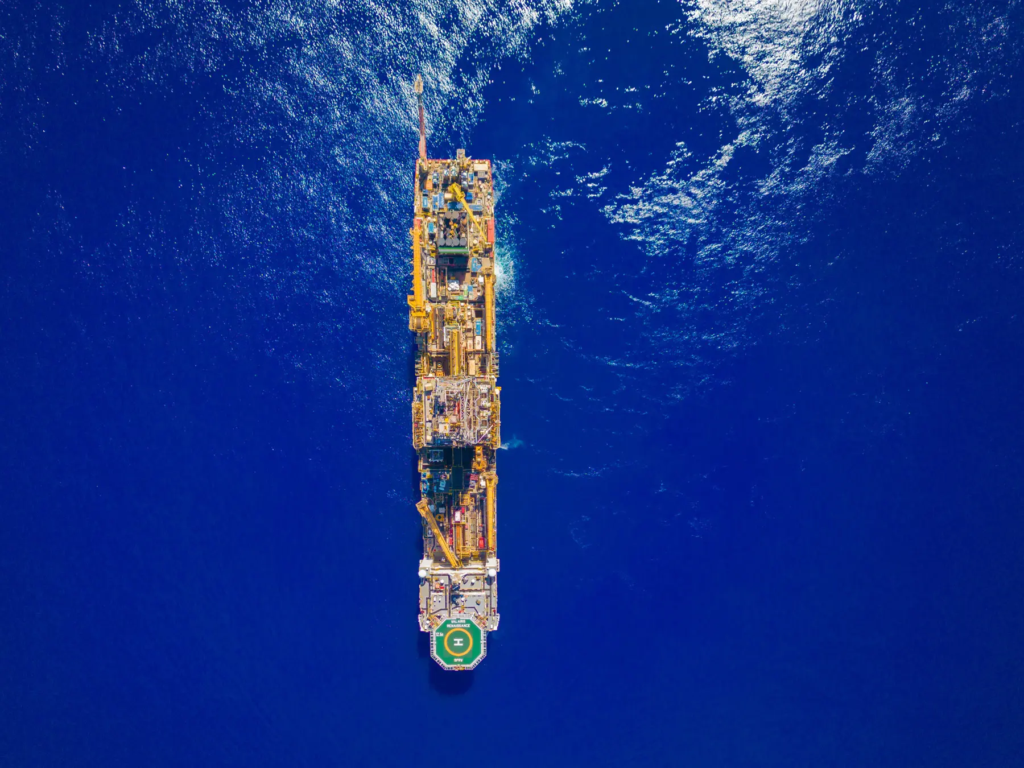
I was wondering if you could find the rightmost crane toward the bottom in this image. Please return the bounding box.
[480,473,498,551]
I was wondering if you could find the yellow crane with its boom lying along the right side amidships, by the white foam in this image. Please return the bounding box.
[478,273,496,351]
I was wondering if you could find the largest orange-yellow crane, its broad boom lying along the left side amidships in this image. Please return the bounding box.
[408,224,432,333]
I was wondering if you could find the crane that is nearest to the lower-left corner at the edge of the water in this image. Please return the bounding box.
[416,498,464,570]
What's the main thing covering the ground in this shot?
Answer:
water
